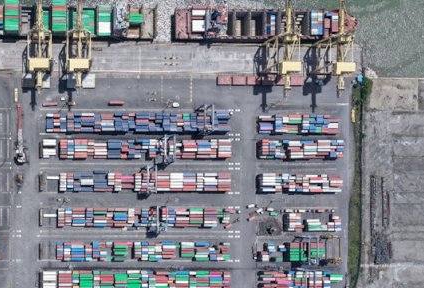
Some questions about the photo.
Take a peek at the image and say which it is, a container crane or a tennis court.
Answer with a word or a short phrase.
container crane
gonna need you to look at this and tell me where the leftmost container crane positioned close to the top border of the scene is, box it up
[26,0,56,93]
